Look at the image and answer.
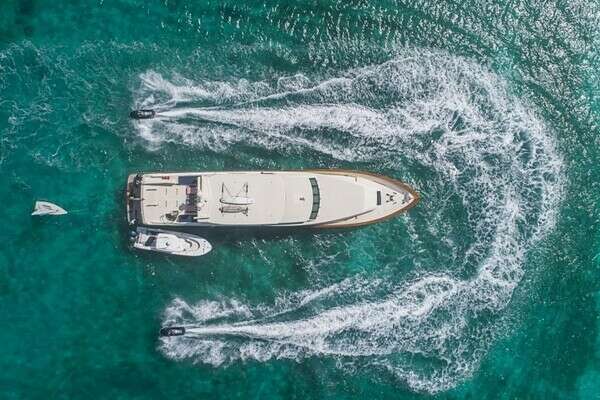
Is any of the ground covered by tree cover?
No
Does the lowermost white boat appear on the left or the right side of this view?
left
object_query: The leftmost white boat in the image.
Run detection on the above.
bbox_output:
[127,230,211,256]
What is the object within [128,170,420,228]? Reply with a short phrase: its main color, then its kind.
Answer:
white boat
